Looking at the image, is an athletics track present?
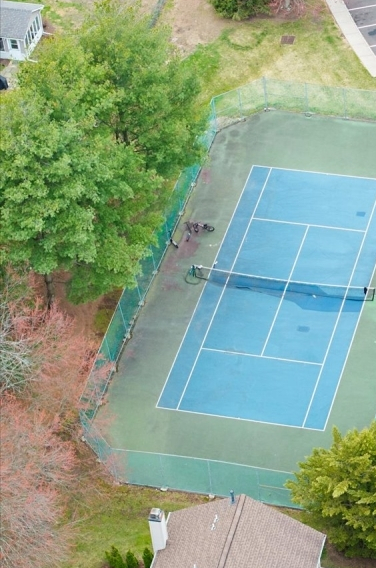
No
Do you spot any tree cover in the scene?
Yes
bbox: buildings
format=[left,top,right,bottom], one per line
[0,4,43,58]
[148,493,327,568]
